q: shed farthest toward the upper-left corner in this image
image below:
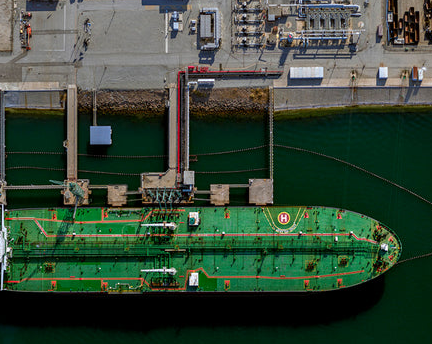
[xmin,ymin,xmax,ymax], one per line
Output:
[90,125,113,145]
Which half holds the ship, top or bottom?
bottom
